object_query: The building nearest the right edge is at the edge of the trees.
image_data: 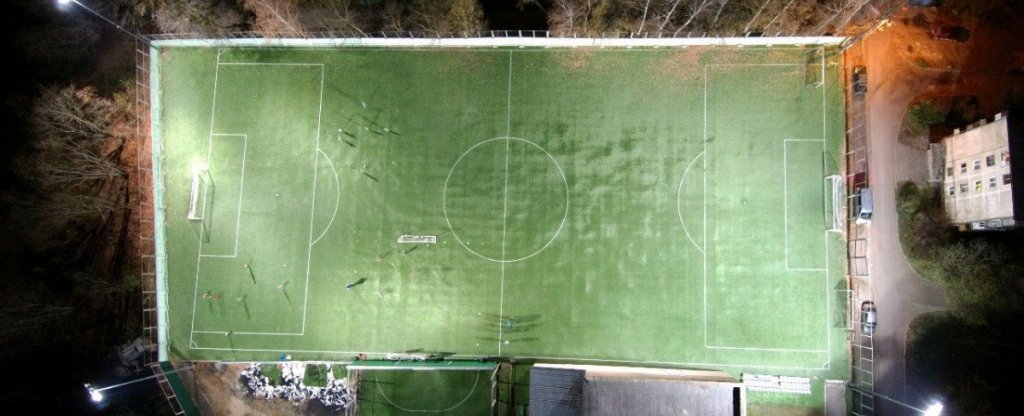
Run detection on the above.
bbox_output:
[940,111,1024,231]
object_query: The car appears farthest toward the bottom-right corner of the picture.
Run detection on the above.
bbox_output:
[860,301,879,334]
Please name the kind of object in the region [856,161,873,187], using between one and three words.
car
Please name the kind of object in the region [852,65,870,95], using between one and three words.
car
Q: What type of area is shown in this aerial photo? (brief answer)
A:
sports ground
